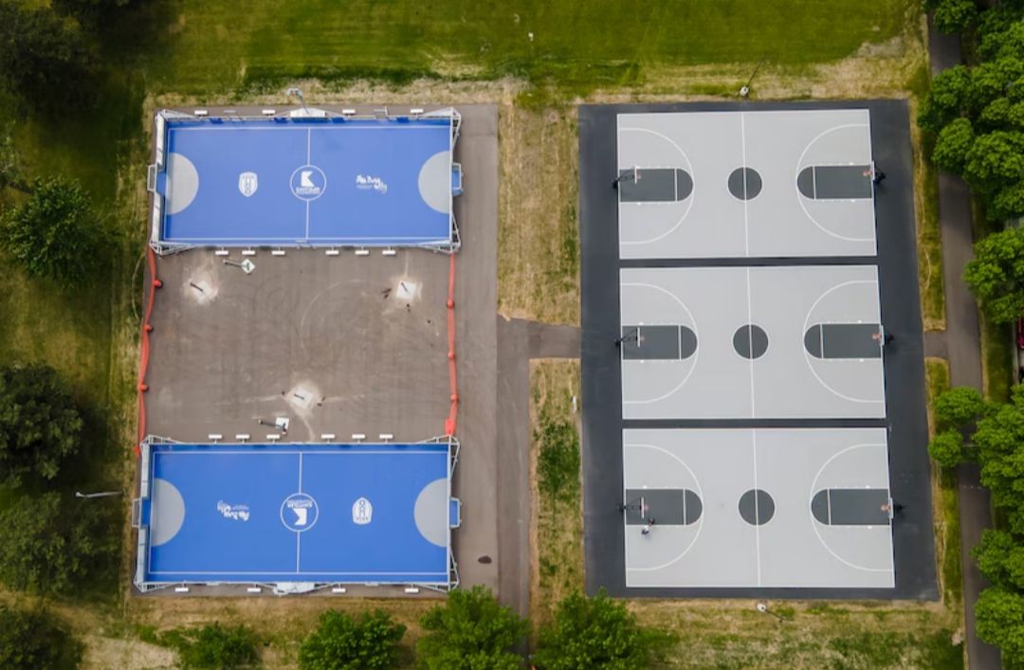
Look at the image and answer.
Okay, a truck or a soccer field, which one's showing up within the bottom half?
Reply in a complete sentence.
The feature located within the bottom half is a soccer field.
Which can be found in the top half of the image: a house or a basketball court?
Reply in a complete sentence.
What appears in the top half of the image is a basketball court.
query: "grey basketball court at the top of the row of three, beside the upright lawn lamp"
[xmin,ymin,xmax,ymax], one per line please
[617,109,877,259]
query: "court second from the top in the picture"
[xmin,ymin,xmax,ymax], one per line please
[620,265,886,420]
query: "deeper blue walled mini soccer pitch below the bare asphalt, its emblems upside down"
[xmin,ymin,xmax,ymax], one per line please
[129,431,462,601]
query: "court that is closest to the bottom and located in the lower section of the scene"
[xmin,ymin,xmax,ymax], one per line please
[623,428,895,588]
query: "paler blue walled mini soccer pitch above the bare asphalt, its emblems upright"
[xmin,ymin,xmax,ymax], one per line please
[144,87,463,258]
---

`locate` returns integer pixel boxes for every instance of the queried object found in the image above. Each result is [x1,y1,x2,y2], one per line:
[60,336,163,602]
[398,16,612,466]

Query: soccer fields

[144,87,463,258]
[129,431,462,601]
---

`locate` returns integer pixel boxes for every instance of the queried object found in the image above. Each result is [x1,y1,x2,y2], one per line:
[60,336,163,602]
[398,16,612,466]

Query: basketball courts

[623,428,895,588]
[620,265,886,420]
[617,109,877,259]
